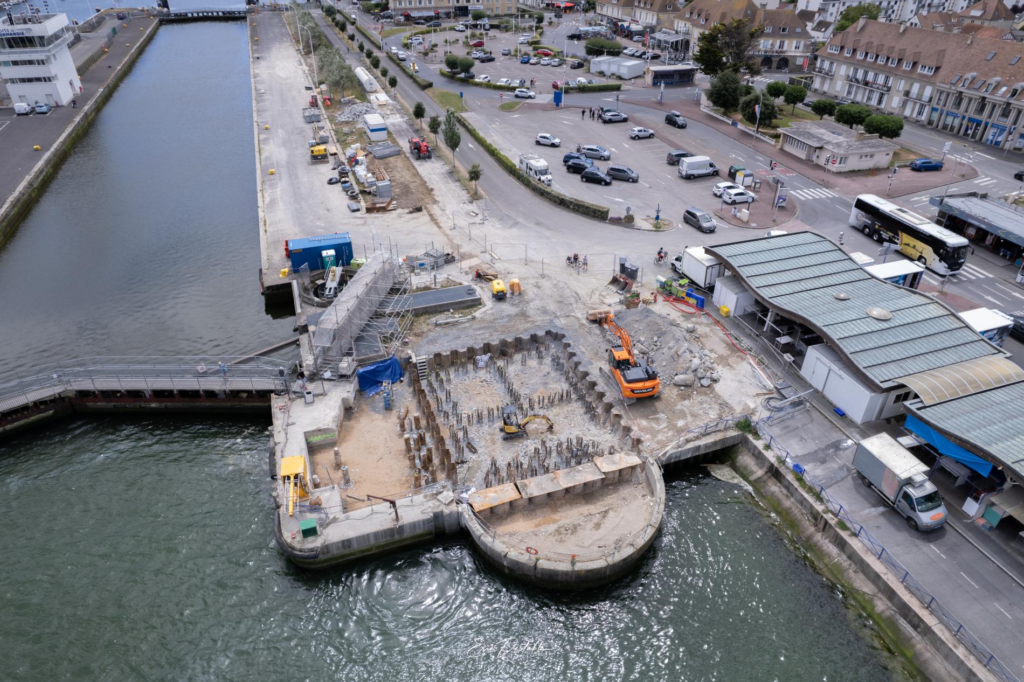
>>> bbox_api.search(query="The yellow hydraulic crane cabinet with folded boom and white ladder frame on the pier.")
[274,455,313,520]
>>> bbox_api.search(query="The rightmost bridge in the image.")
[309,242,435,398]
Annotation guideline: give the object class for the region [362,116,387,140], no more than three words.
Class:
building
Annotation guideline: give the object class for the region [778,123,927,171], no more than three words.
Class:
house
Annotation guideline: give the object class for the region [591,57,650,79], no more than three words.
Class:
building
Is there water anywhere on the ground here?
Yes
